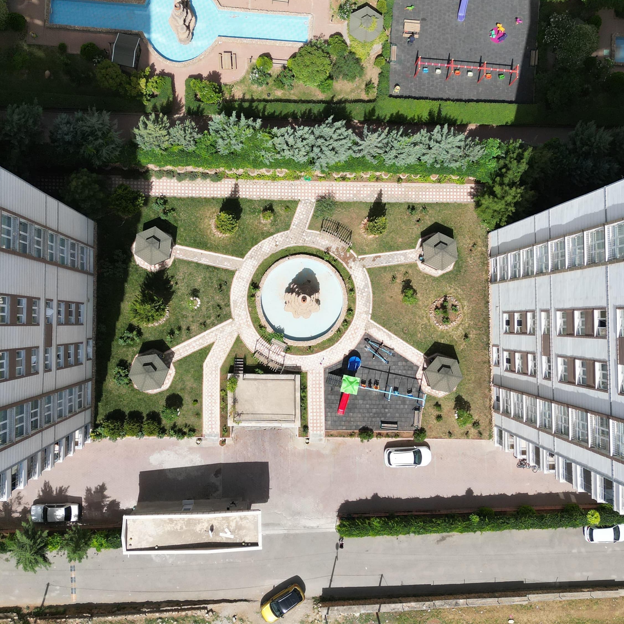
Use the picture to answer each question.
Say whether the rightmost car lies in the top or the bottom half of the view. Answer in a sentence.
The bottom half of the photo is where the rightmost car is.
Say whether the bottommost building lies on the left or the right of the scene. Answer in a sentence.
You can find the bottommost building on the left side of the picture.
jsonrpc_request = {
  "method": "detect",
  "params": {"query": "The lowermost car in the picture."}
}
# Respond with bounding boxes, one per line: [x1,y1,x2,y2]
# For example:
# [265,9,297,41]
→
[261,581,306,624]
